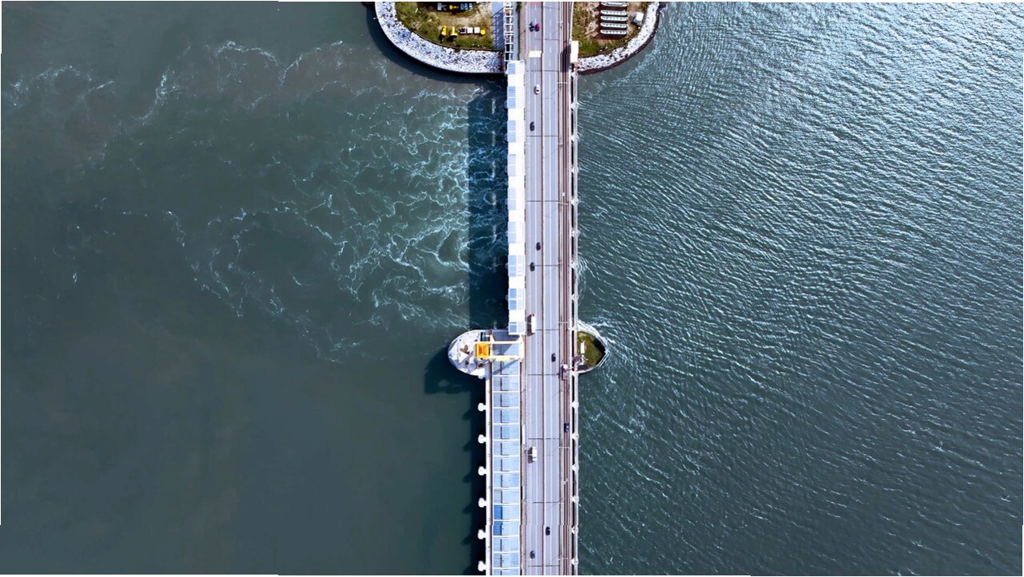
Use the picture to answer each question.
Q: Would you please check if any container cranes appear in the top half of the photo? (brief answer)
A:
No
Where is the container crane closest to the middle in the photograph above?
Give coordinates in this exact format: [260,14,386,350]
[474,329,524,360]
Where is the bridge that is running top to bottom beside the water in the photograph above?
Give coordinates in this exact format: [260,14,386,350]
[478,0,577,577]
